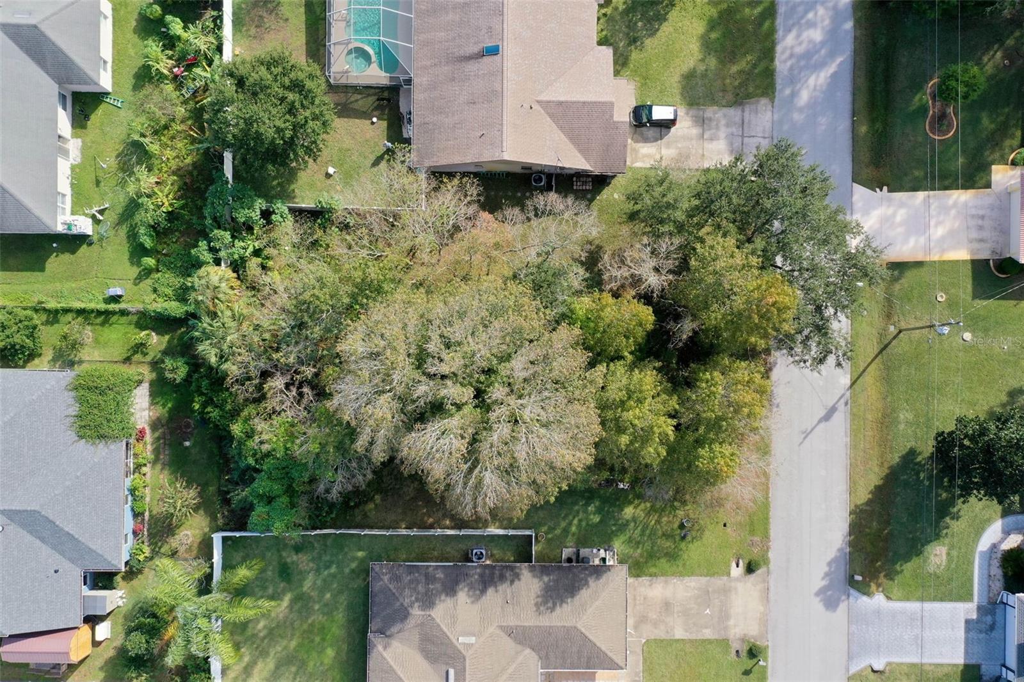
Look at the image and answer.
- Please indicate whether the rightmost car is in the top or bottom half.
top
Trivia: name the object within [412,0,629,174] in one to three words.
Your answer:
house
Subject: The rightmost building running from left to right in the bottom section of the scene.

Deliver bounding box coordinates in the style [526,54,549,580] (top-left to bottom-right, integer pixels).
[367,562,629,682]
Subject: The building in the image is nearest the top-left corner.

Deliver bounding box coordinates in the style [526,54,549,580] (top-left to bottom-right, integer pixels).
[0,0,112,234]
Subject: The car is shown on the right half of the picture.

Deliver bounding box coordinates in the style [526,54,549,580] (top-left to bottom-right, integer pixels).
[629,102,678,129]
